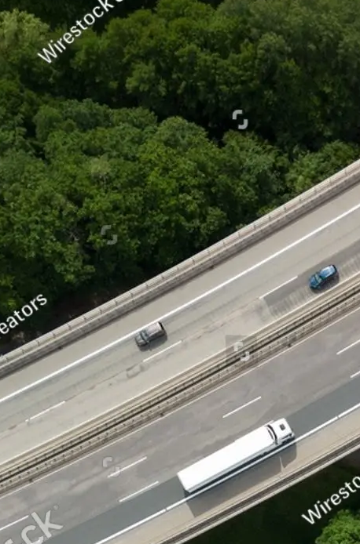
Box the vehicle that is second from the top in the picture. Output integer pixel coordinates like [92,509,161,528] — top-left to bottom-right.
[133,322,169,350]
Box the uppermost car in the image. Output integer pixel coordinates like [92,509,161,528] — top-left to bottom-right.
[307,265,339,290]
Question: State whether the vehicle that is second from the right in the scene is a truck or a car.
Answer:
truck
